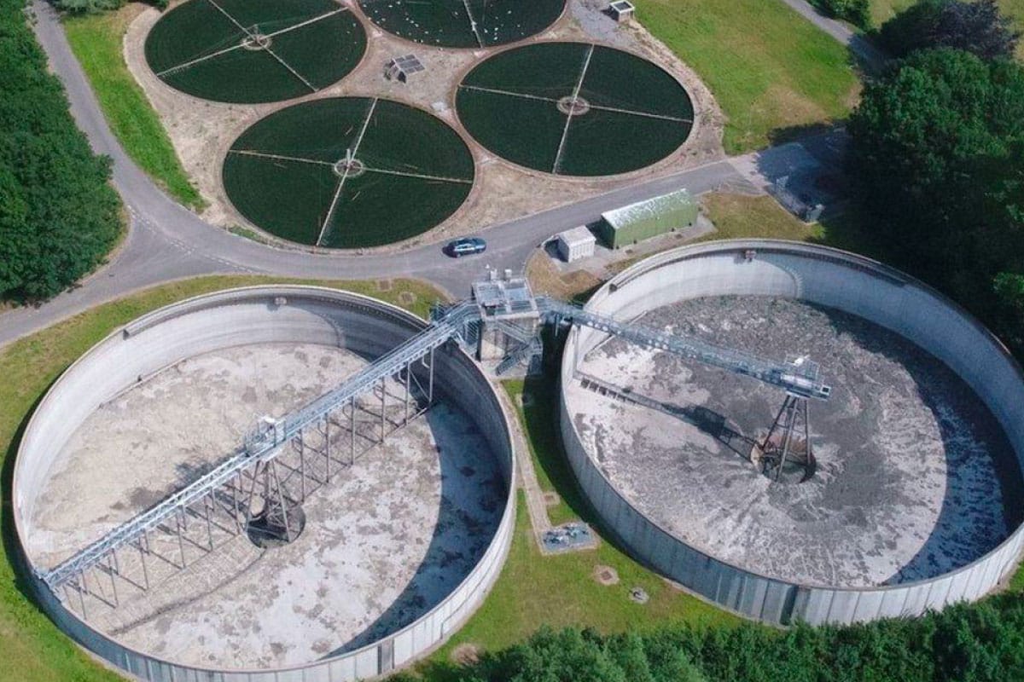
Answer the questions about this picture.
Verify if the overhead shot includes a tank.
Yes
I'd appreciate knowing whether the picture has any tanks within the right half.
Yes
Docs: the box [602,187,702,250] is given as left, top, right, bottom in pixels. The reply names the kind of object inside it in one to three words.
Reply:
building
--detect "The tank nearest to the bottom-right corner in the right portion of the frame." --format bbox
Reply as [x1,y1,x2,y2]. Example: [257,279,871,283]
[552,239,1024,636]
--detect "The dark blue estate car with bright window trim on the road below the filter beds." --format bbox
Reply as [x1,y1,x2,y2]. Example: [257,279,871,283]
[445,235,487,257]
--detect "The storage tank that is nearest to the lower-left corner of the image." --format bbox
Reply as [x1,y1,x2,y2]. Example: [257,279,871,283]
[11,284,519,682]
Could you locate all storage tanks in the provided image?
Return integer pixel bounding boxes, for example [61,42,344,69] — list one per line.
[11,284,519,682]
[552,239,1024,636]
